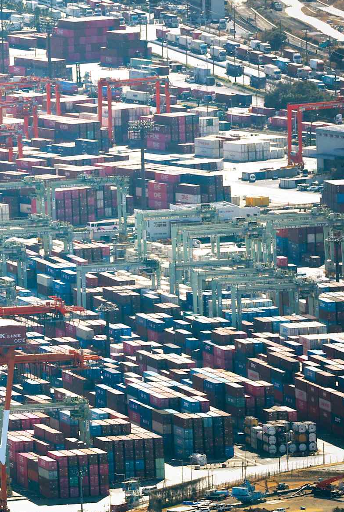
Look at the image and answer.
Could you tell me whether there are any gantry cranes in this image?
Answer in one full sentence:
Yes, there's a gantry crane here.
